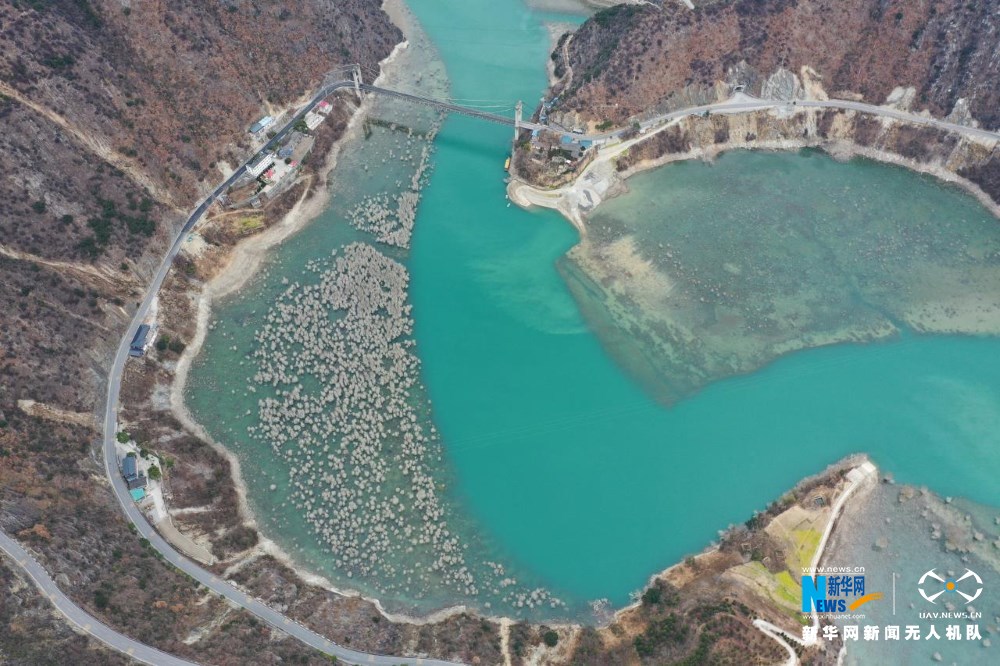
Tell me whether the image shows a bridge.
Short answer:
Yes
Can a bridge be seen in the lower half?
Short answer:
No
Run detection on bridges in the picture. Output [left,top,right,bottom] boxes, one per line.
[310,61,562,142]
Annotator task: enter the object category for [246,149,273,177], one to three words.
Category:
building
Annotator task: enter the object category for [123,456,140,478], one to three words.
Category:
house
